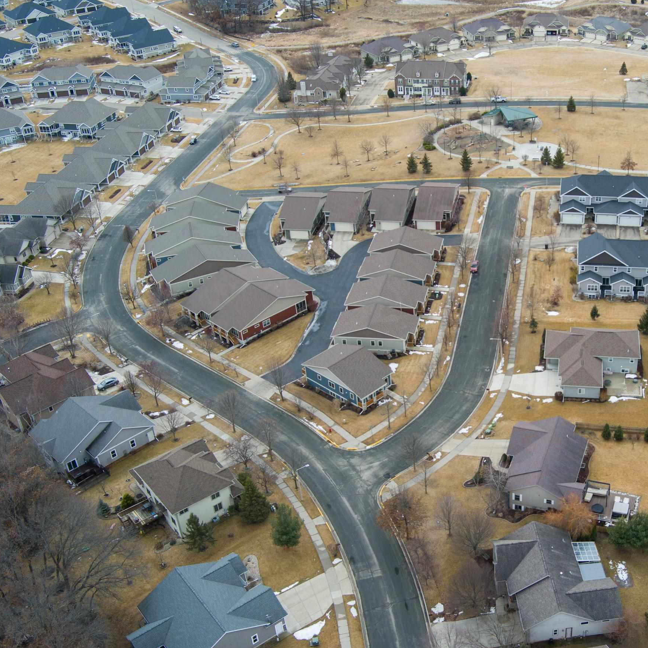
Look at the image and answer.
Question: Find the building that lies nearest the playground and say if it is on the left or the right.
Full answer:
You can find the building that lies nearest the playground on the right side of the picture.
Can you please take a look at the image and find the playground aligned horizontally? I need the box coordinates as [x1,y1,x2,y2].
[440,124,514,157]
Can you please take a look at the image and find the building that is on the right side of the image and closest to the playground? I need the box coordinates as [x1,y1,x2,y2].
[484,106,537,129]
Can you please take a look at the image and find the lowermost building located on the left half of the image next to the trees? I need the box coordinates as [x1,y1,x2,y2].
[124,551,285,648]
